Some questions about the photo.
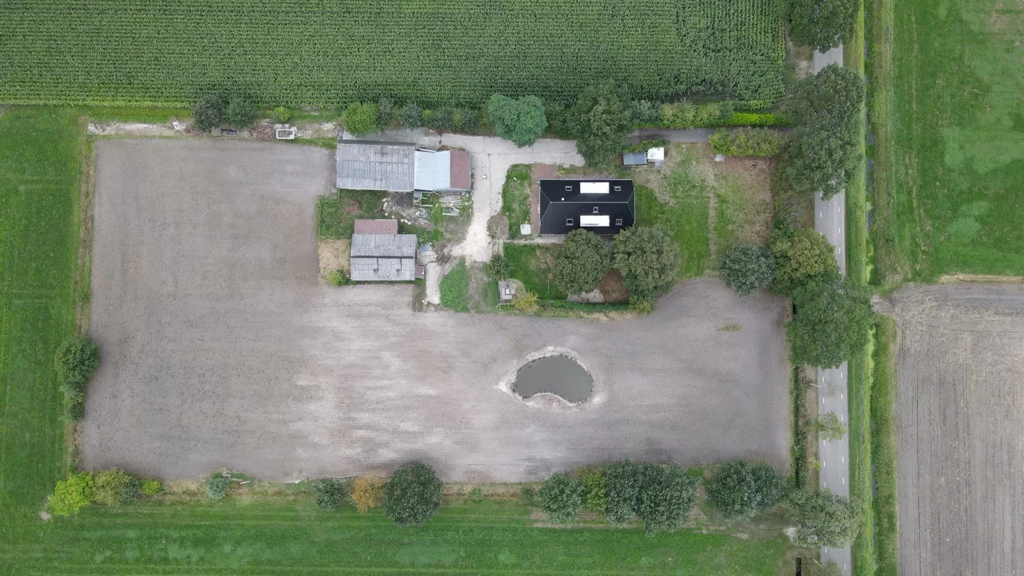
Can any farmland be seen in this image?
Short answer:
Yes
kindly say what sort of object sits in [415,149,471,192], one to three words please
shed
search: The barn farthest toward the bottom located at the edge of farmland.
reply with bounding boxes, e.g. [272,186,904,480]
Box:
[348,218,426,281]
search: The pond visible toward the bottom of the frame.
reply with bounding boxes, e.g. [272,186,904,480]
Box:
[512,355,593,404]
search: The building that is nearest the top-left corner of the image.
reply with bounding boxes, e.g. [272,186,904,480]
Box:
[334,139,416,192]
